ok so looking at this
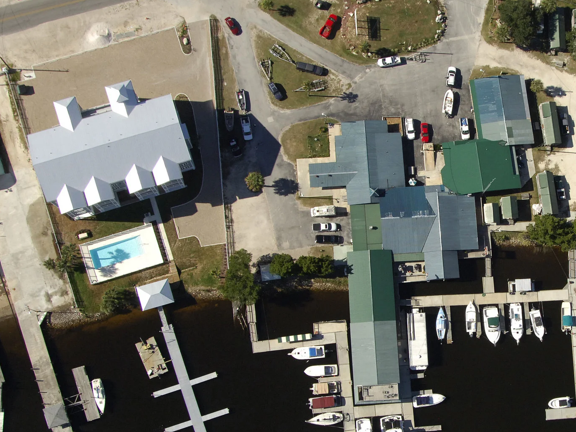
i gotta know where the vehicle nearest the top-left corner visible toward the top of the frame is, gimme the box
[224,16,239,35]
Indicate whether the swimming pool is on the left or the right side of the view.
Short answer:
left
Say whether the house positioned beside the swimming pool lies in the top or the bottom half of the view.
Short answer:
top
